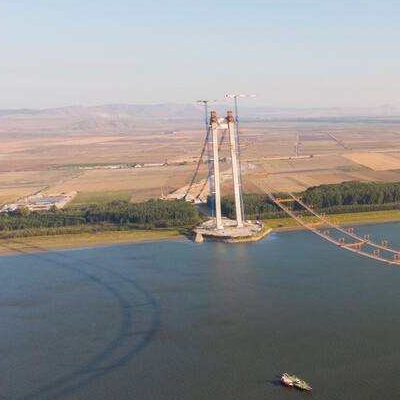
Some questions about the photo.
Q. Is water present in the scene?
Yes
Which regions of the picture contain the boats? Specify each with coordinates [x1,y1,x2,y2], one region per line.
[289,377,315,390]
[278,376,296,389]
